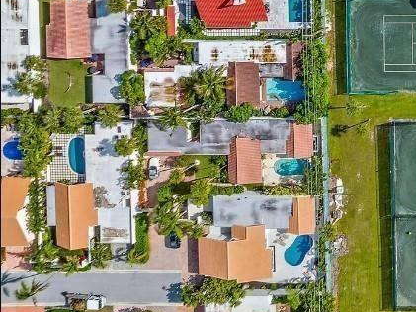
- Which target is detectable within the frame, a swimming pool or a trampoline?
swimming pool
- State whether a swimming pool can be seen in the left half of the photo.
Yes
